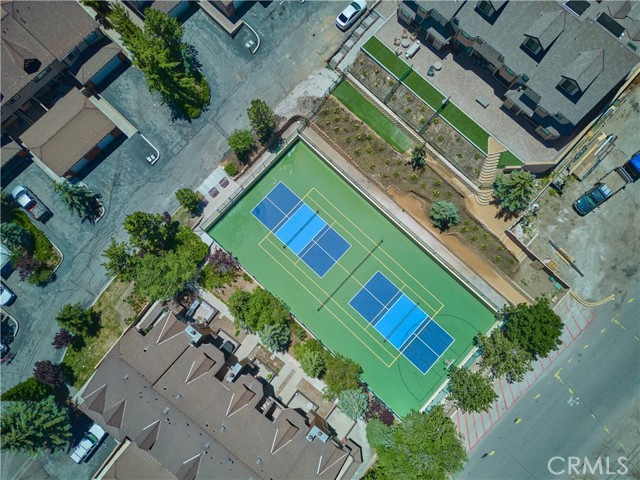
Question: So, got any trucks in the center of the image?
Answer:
No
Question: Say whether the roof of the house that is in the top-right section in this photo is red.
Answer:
No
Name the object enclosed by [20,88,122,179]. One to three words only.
building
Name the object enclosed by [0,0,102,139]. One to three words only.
house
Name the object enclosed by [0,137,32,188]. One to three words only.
building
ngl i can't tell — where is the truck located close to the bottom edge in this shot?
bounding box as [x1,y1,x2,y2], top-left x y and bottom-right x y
[64,420,109,469]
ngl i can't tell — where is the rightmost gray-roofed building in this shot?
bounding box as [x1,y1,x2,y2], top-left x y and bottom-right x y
[394,0,640,148]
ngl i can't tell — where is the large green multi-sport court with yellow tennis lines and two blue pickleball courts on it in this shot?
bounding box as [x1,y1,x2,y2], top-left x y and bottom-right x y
[205,138,496,417]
